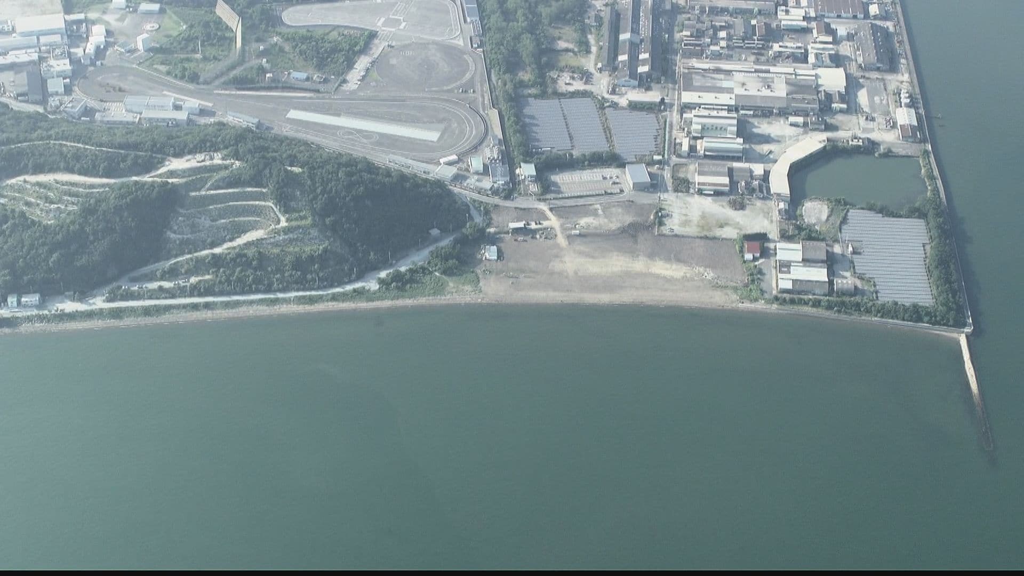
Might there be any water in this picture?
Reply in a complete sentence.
Yes, there is water in the image.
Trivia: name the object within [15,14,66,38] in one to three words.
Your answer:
building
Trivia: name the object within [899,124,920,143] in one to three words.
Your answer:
building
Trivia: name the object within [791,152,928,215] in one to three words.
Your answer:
pond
